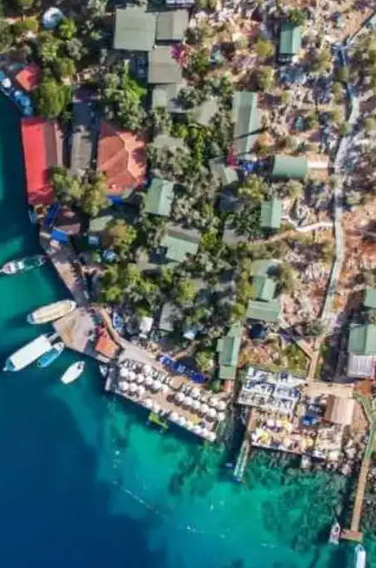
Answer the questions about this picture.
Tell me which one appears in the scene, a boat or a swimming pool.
boat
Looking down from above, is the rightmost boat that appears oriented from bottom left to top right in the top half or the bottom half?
bottom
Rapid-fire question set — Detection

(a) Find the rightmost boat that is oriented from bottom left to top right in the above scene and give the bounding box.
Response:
[61,358,86,383]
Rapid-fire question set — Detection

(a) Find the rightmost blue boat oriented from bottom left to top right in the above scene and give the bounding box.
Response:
[37,344,63,370]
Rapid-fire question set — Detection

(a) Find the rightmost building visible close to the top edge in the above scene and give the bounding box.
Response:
[275,22,302,56]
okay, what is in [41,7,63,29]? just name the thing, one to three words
tent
